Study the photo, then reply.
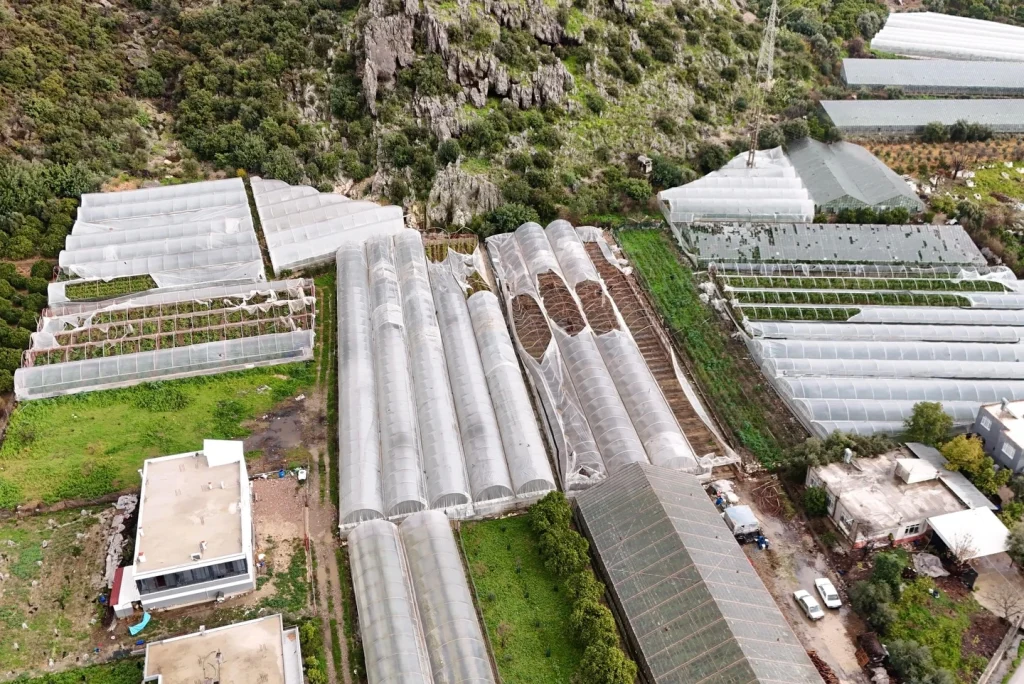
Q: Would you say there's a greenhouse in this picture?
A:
Yes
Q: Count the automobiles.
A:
2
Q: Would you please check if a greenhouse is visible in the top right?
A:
Yes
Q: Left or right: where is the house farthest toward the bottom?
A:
left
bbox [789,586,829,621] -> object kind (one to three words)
car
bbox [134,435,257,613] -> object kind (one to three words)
house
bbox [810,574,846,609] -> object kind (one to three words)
car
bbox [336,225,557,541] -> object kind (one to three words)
greenhouse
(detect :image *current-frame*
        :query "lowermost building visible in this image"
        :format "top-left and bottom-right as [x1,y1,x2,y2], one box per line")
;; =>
[143,614,308,684]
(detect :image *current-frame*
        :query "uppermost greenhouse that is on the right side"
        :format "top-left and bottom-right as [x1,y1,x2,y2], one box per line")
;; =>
[871,10,1024,60]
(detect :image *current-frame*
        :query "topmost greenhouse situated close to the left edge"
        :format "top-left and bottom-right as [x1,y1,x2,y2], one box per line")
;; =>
[49,179,267,316]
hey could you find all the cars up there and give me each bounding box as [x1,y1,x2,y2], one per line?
[810,574,846,609]
[789,586,829,621]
